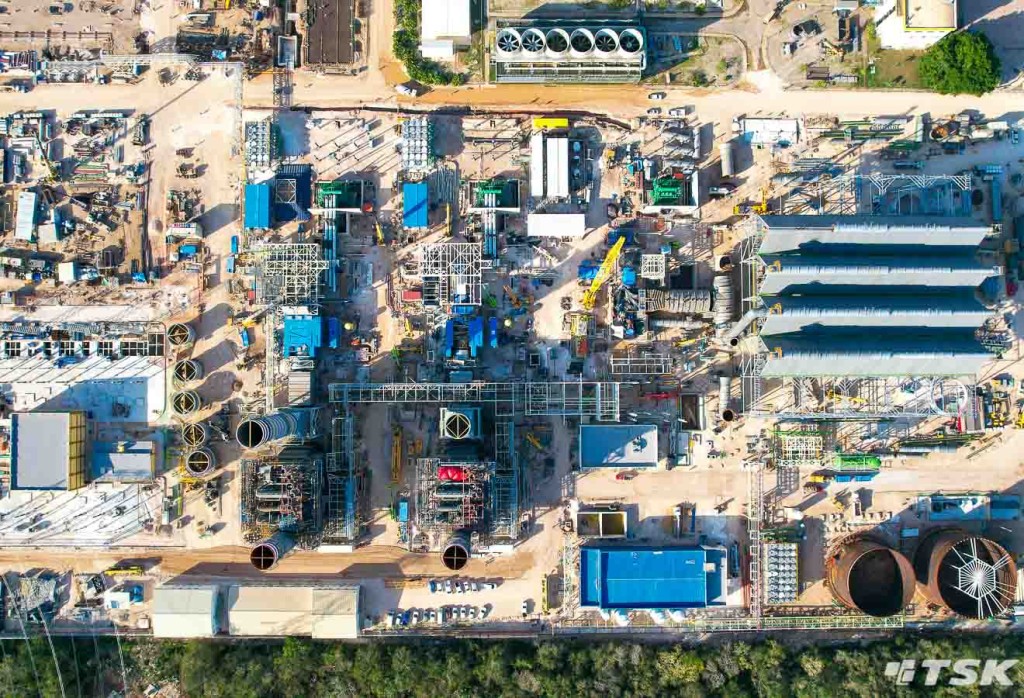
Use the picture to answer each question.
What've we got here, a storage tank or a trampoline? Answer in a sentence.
The one in the frame is a storage tank.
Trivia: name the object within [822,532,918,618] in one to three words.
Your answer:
storage tank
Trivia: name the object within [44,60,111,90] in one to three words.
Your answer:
shed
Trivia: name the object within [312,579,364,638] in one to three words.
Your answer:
building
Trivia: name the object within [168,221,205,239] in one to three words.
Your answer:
building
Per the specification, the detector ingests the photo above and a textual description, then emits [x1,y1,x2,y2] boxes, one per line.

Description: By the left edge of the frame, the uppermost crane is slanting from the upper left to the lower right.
[0,108,66,185]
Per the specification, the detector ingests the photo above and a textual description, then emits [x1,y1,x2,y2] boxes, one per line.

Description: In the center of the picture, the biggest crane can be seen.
[565,240,622,353]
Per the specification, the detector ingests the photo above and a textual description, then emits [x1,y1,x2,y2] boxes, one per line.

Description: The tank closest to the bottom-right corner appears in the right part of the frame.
[914,527,1020,621]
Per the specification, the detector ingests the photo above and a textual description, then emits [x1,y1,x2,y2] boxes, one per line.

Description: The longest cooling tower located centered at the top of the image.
[494,25,647,86]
